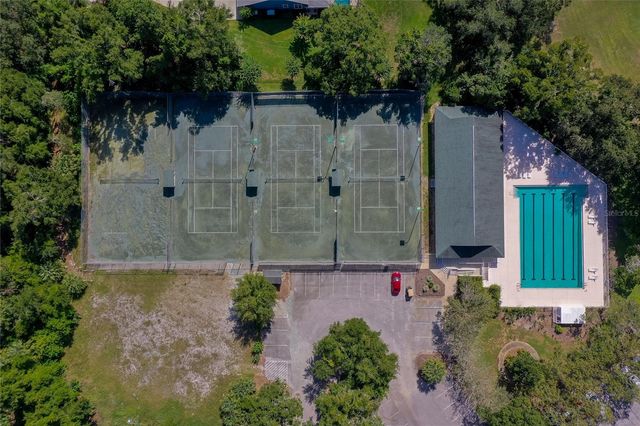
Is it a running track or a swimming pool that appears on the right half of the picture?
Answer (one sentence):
You can see a swimming pool on the right half of the picture.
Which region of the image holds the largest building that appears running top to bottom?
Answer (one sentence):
The largest building that appears running top to bottom is located in the right region of the scene.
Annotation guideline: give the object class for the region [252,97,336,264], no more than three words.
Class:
tennis court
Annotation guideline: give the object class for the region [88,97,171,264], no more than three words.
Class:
tennis court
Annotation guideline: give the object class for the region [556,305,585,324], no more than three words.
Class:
shed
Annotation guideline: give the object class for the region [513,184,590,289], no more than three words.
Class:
swimming pool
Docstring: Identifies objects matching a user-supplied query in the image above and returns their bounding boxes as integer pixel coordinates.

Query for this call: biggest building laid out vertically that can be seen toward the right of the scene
[436,106,504,257]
